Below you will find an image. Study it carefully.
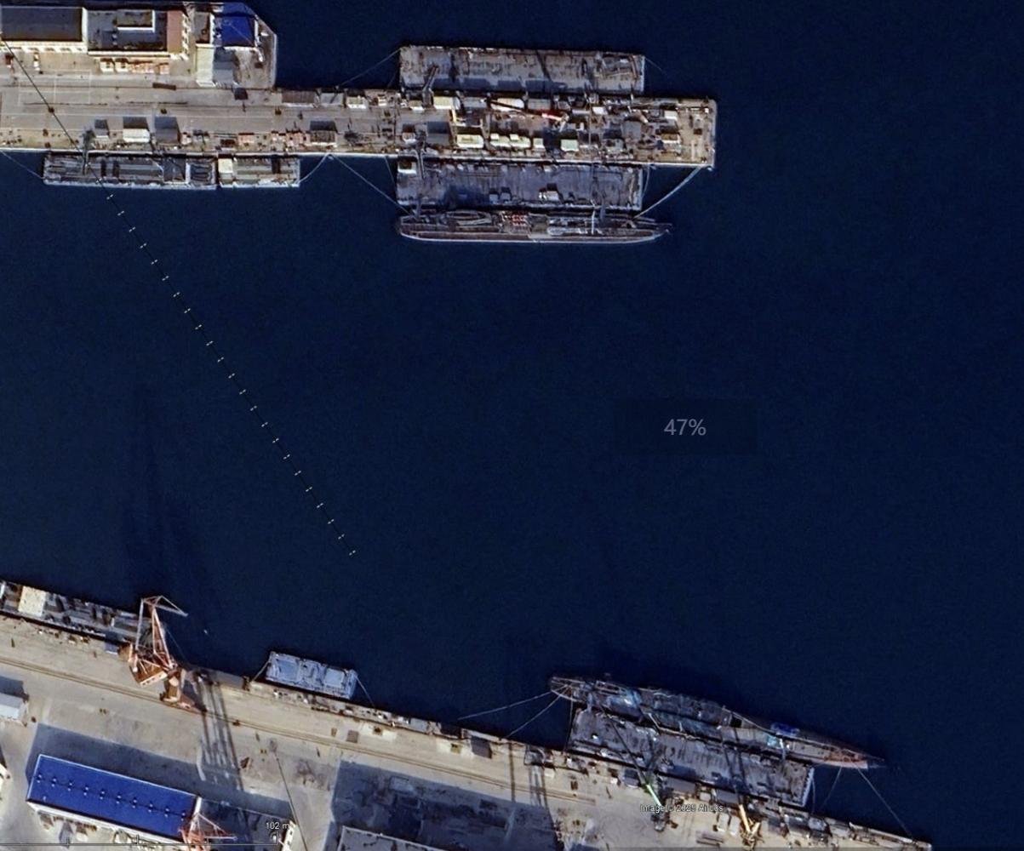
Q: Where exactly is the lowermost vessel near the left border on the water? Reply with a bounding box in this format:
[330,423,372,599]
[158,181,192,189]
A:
[0,581,151,641]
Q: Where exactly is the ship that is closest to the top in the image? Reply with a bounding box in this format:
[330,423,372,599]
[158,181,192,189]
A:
[401,43,645,95]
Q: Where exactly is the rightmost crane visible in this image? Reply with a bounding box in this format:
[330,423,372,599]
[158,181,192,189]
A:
[725,723,761,849]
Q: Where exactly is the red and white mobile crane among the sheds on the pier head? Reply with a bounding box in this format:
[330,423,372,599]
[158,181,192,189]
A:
[491,99,572,134]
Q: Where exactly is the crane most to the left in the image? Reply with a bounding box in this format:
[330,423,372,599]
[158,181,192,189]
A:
[119,596,211,712]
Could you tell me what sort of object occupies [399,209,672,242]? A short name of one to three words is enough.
ship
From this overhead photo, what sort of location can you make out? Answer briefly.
port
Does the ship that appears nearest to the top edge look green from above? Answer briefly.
No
